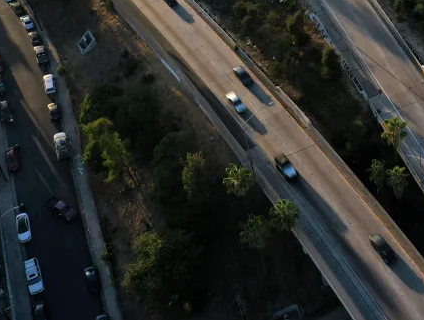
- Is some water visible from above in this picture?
No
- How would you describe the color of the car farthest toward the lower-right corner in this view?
black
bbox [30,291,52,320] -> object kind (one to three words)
car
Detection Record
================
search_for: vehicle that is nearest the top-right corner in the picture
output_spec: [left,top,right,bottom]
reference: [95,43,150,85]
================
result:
[229,64,254,88]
